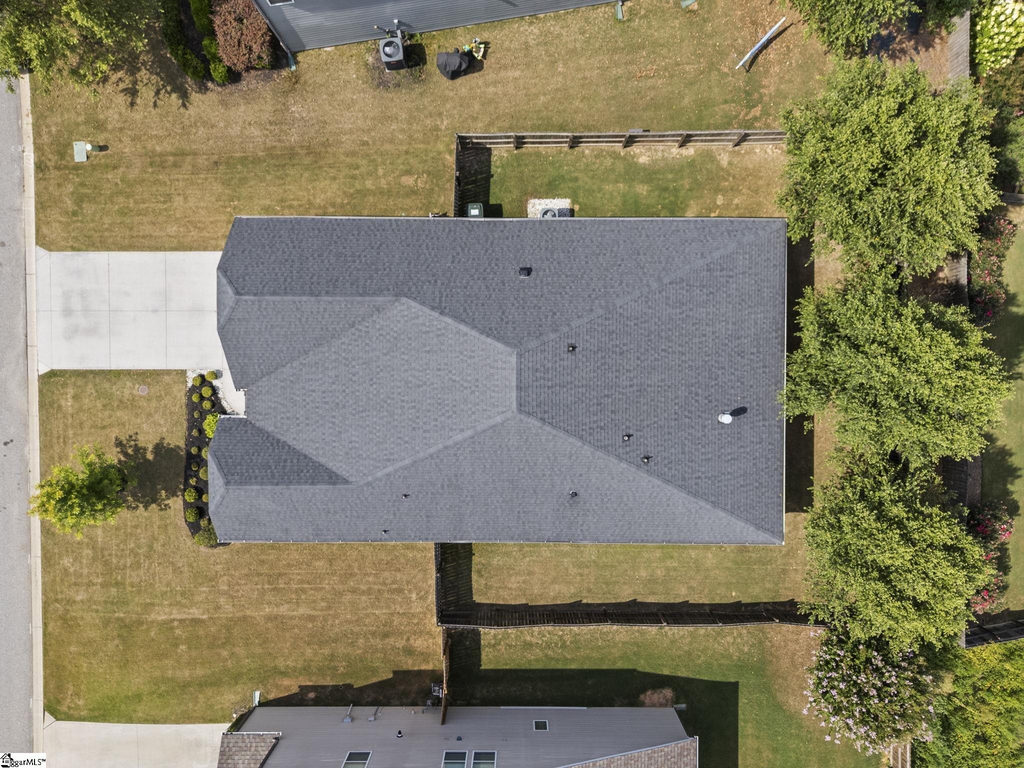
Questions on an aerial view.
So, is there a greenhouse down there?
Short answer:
No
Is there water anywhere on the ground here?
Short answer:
No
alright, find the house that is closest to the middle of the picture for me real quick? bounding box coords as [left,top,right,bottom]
[207,217,786,544]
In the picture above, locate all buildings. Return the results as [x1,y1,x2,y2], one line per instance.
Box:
[211,705,699,768]
[207,217,786,544]
[258,0,627,53]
